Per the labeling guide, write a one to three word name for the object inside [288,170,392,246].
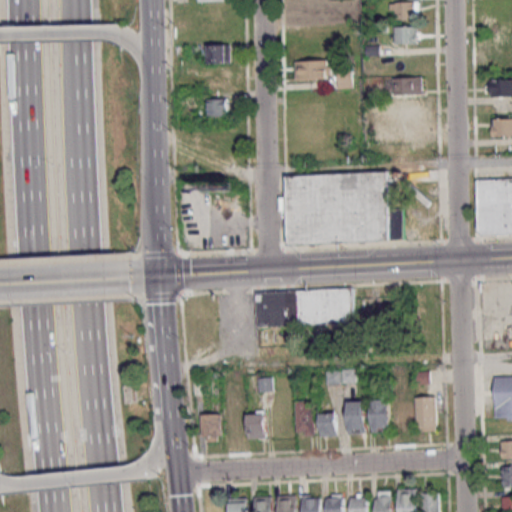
building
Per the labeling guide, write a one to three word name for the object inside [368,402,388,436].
house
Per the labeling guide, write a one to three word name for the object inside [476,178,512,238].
building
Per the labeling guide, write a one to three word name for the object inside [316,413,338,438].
house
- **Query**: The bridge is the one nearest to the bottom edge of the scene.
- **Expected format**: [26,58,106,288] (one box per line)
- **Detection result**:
[0,417,167,494]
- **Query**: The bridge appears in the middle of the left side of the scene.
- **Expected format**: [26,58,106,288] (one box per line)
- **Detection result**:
[0,252,147,306]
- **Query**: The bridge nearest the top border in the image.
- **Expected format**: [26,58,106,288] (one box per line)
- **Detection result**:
[0,24,142,70]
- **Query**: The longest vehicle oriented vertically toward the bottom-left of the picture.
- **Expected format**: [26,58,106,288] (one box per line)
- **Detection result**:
[26,392,41,452]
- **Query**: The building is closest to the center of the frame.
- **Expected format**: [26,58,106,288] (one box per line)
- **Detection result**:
[256,290,298,328]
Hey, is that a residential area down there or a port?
residential area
